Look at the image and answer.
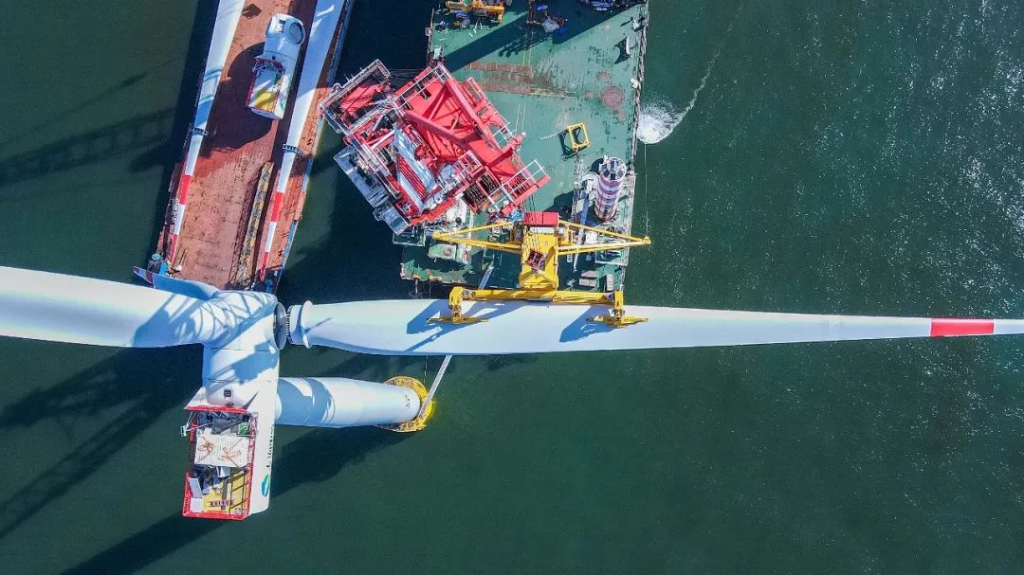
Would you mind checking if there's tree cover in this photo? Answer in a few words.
No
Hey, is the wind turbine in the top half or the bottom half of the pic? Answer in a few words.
bottom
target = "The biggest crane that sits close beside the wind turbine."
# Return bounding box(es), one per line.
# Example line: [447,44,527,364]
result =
[323,59,552,277]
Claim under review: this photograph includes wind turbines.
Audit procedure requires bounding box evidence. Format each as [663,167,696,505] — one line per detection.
[0,264,440,526]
